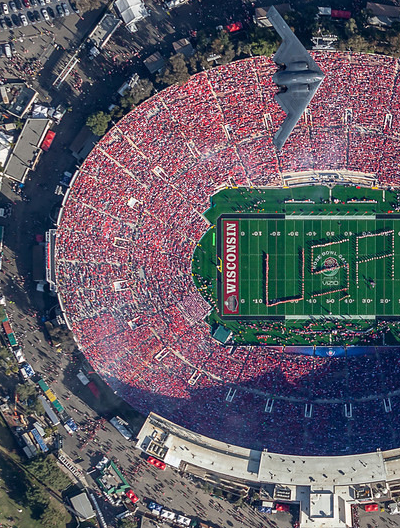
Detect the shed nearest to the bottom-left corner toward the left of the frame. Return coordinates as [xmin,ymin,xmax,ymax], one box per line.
[70,492,95,522]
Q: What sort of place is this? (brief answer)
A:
sports ground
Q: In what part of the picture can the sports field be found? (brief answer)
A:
right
